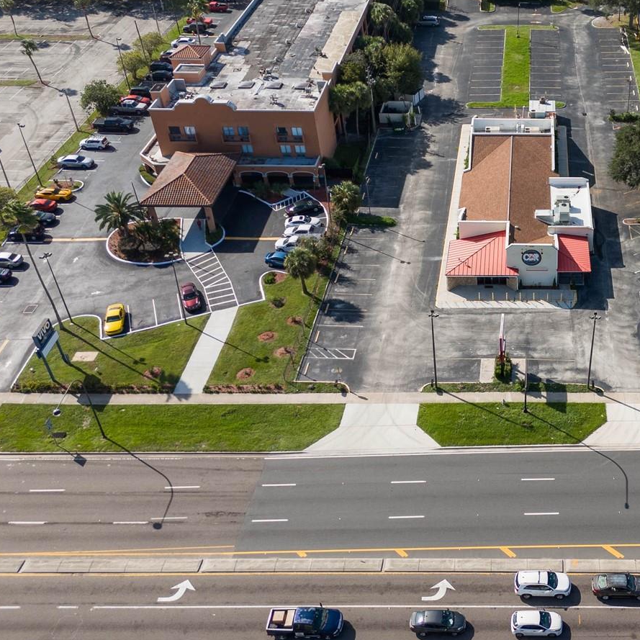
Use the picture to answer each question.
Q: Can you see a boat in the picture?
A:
No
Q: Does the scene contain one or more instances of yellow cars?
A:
Yes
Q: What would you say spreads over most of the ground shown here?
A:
paved ground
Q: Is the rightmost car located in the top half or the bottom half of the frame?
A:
bottom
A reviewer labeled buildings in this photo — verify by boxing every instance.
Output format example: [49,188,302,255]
[447,110,595,291]
[136,0,395,232]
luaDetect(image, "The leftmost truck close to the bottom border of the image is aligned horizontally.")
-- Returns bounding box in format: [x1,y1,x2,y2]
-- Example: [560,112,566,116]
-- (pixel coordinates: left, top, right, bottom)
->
[264,602,343,637]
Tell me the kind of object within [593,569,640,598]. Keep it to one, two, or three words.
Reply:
car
